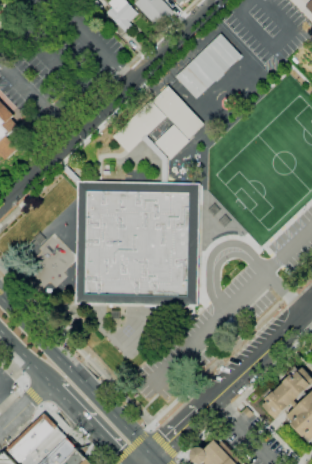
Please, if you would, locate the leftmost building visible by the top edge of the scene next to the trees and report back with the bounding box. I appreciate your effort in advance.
[108,0,139,32]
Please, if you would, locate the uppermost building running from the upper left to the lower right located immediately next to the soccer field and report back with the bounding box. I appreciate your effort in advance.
[154,86,204,140]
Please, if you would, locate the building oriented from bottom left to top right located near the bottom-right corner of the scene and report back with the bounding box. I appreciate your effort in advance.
[264,368,312,418]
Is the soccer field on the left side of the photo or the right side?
right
